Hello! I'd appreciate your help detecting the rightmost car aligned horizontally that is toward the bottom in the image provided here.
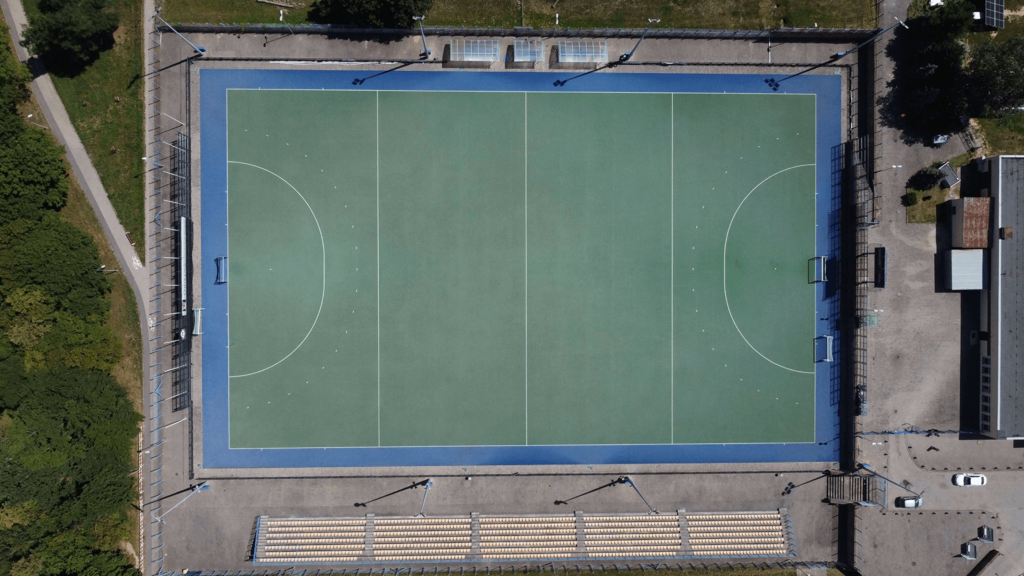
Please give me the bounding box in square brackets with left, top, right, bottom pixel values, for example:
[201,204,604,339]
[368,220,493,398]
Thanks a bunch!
[957,473,989,489]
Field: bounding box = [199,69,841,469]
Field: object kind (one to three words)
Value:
sports field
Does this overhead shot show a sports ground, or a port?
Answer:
sports ground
